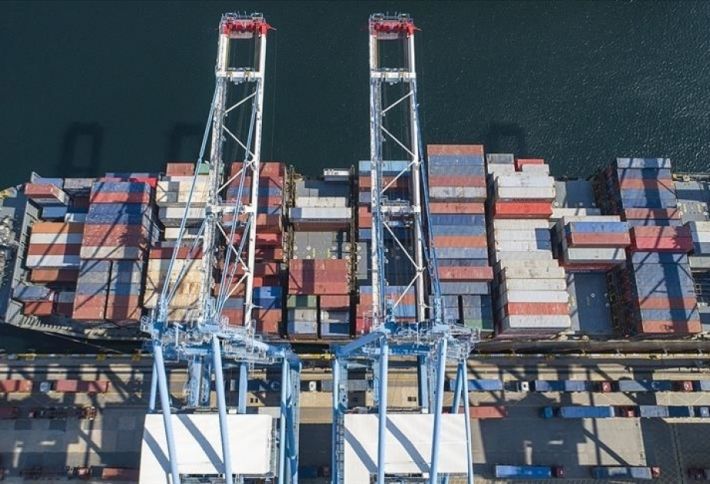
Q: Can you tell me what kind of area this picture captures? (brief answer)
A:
port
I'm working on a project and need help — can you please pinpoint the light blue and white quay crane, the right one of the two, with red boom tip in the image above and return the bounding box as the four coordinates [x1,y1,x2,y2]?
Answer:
[324,8,478,484]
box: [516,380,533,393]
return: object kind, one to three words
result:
vehicle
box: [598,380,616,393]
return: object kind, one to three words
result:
vehicle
